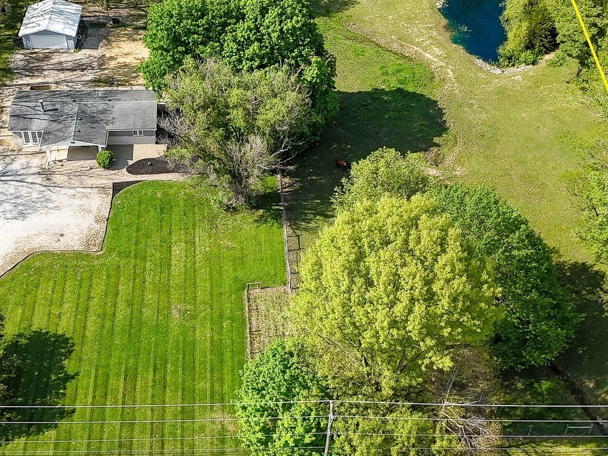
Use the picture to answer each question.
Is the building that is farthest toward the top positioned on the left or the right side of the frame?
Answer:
left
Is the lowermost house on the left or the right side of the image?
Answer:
left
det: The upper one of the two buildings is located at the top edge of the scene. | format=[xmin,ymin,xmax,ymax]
[21,0,83,50]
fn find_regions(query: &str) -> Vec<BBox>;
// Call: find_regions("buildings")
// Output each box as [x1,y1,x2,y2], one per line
[7,90,161,171]
[21,0,83,50]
